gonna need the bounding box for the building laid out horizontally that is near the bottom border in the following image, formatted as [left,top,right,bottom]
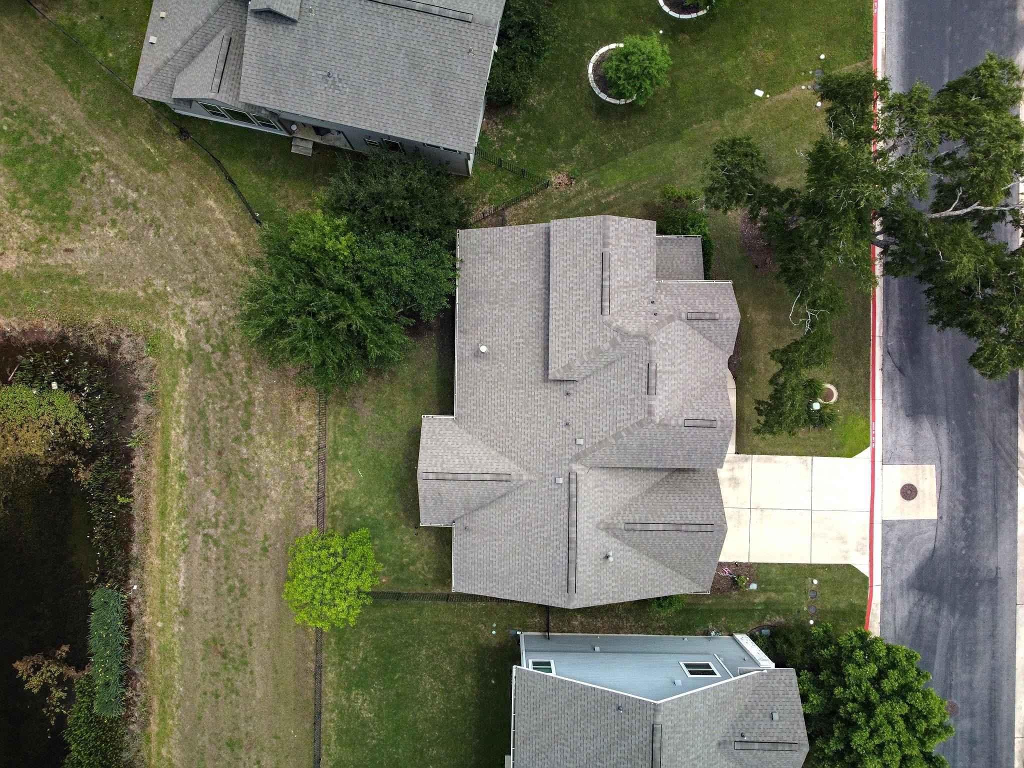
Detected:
[510,628,809,768]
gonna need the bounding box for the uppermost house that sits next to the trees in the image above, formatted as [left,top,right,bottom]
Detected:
[132,0,511,181]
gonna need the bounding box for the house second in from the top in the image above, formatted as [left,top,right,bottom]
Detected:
[418,215,741,609]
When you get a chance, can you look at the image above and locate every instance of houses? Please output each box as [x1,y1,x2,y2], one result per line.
[510,628,809,768]
[132,0,511,181]
[418,215,741,609]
